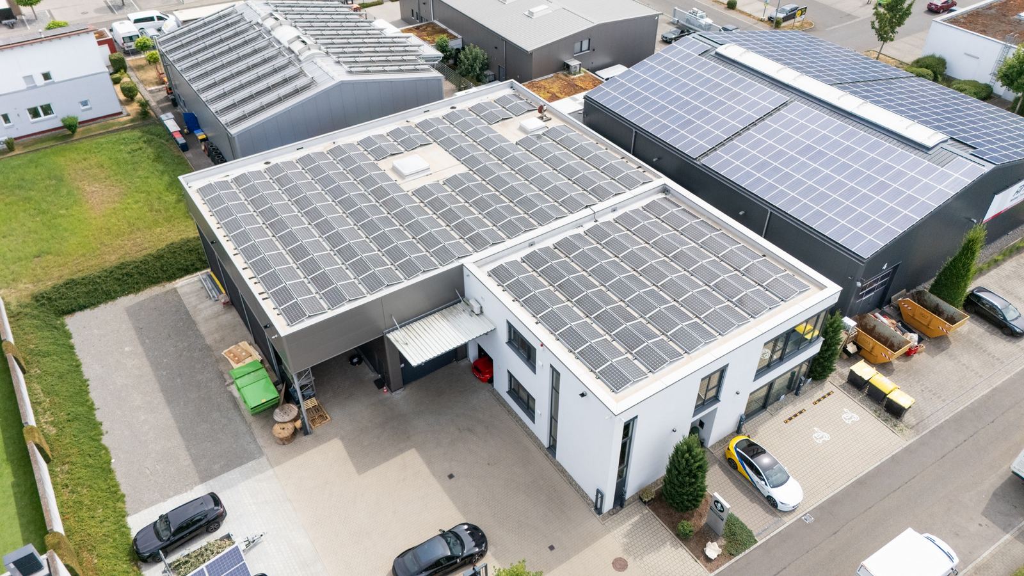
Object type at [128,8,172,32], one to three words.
vehicle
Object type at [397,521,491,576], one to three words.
car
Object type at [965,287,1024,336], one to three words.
car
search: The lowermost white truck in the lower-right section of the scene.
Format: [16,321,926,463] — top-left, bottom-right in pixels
[856,526,963,576]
